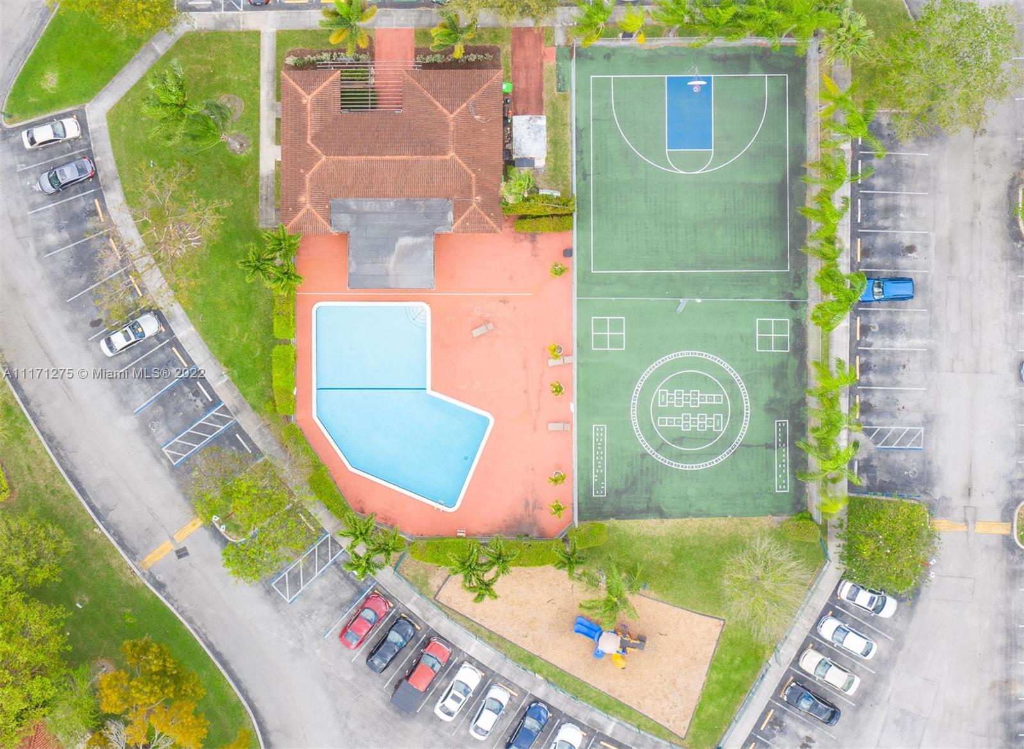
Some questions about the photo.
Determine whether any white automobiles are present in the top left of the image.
Yes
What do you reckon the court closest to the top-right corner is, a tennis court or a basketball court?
basketball court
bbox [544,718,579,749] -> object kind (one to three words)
car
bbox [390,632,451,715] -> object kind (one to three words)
truck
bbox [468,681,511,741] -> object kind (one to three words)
car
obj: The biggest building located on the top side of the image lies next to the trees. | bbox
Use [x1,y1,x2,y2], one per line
[280,62,503,289]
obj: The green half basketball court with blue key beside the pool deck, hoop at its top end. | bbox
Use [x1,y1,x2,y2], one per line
[576,47,808,299]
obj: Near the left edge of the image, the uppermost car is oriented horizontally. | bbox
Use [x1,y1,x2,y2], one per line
[22,116,84,150]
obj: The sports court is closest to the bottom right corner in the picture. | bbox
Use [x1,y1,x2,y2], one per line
[576,298,808,521]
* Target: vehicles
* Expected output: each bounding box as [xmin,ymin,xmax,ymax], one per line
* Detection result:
[502,697,546,749]
[432,0,449,5]
[835,578,897,616]
[468,681,511,741]
[339,590,389,649]
[795,648,862,698]
[366,613,416,672]
[814,613,879,661]
[38,158,99,195]
[544,718,579,749]
[22,116,84,150]
[390,632,451,715]
[780,679,843,728]
[856,276,913,304]
[97,310,165,358]
[434,659,483,721]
